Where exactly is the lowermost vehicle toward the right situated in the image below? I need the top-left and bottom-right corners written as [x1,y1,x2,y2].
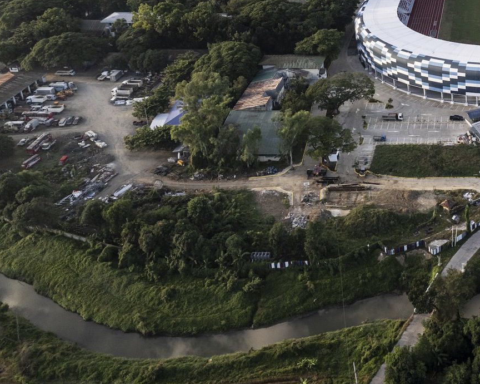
[310,160,333,175]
